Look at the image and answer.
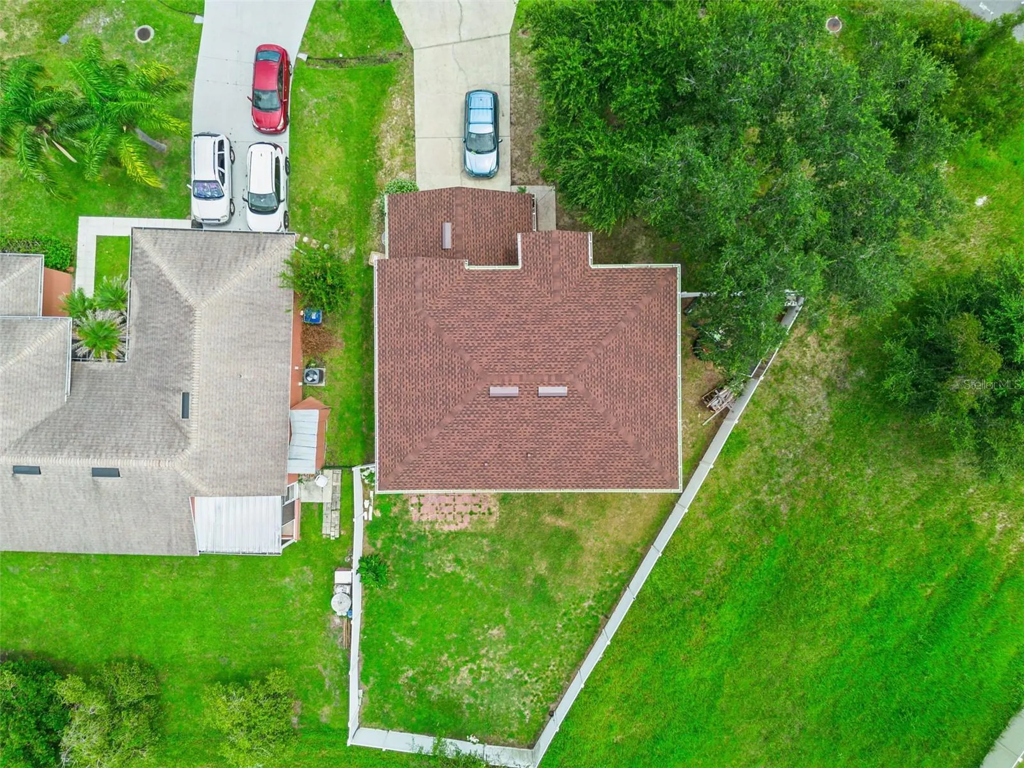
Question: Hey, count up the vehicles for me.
4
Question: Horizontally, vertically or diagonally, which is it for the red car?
vertically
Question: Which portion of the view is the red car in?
top left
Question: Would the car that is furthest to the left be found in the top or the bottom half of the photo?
top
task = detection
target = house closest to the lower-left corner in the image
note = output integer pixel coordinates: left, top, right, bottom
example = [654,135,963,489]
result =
[0,225,332,557]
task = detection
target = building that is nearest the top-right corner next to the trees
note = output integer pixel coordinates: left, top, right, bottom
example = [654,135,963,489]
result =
[372,185,684,493]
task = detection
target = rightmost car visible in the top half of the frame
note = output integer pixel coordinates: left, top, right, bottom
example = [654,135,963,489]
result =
[459,88,504,182]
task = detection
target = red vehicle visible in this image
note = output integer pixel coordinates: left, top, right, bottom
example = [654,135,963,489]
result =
[245,43,293,138]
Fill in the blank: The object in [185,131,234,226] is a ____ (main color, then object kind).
white car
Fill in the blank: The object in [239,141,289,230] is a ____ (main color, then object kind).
white car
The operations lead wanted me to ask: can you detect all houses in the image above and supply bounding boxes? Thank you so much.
[0,225,332,557]
[372,185,684,493]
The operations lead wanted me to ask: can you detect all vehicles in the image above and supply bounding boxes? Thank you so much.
[245,43,293,138]
[185,131,234,226]
[459,88,504,182]
[239,141,289,230]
